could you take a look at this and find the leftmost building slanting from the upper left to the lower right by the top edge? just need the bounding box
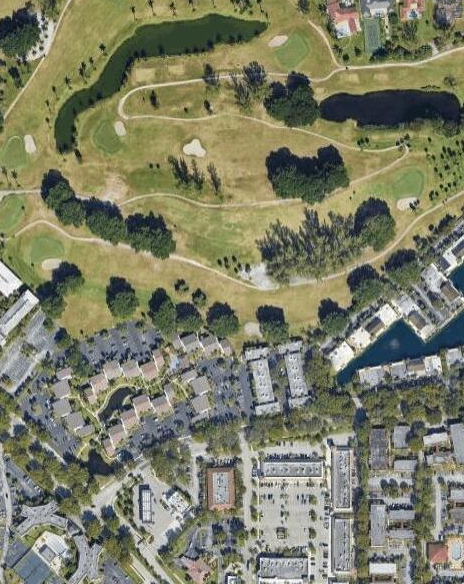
[327,0,360,31]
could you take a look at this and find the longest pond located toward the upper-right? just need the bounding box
[322,91,460,126]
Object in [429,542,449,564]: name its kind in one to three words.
house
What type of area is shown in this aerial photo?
golf course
